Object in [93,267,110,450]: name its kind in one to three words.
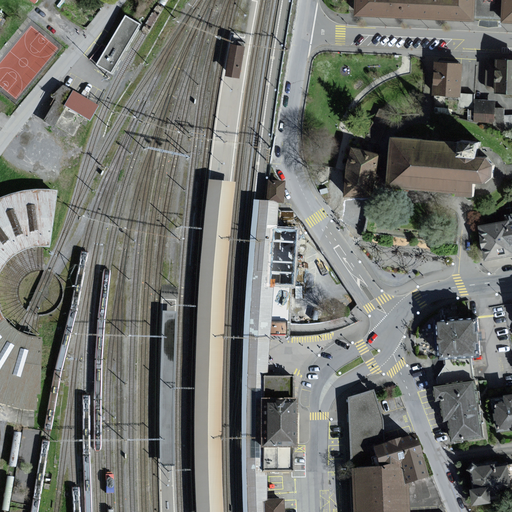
train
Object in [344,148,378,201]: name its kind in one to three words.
house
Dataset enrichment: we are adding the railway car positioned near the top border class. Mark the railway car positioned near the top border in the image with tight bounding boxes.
[140,4,163,35]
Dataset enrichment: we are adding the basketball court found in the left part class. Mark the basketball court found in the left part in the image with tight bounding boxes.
[0,26,58,98]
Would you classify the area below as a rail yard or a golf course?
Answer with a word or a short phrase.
rail yard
